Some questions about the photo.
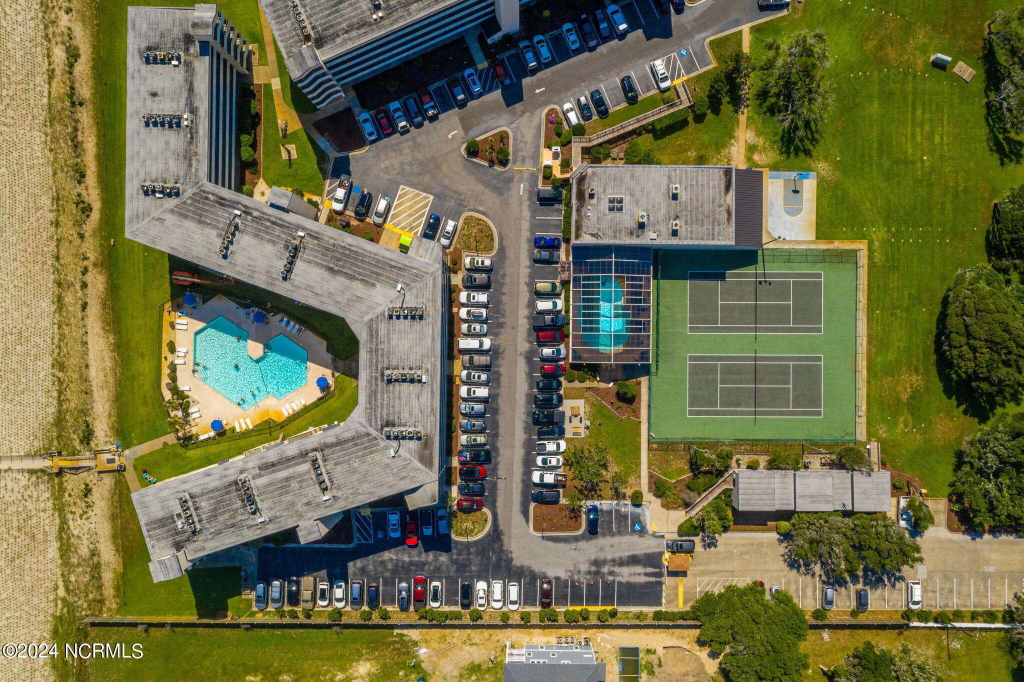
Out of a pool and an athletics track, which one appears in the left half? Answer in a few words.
pool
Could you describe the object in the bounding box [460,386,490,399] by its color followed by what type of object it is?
white vehicle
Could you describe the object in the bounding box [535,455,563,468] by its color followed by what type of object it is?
white vehicle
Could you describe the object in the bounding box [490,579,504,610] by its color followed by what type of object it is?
white car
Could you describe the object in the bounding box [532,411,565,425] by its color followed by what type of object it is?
black vehicle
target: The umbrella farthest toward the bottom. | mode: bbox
[210,418,225,432]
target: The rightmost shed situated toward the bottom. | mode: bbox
[724,465,897,512]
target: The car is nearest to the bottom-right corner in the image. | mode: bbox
[906,579,923,610]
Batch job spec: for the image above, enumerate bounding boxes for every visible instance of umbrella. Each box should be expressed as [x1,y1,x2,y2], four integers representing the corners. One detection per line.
[252,310,267,324]
[316,376,330,390]
[183,292,197,306]
[210,418,225,432]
